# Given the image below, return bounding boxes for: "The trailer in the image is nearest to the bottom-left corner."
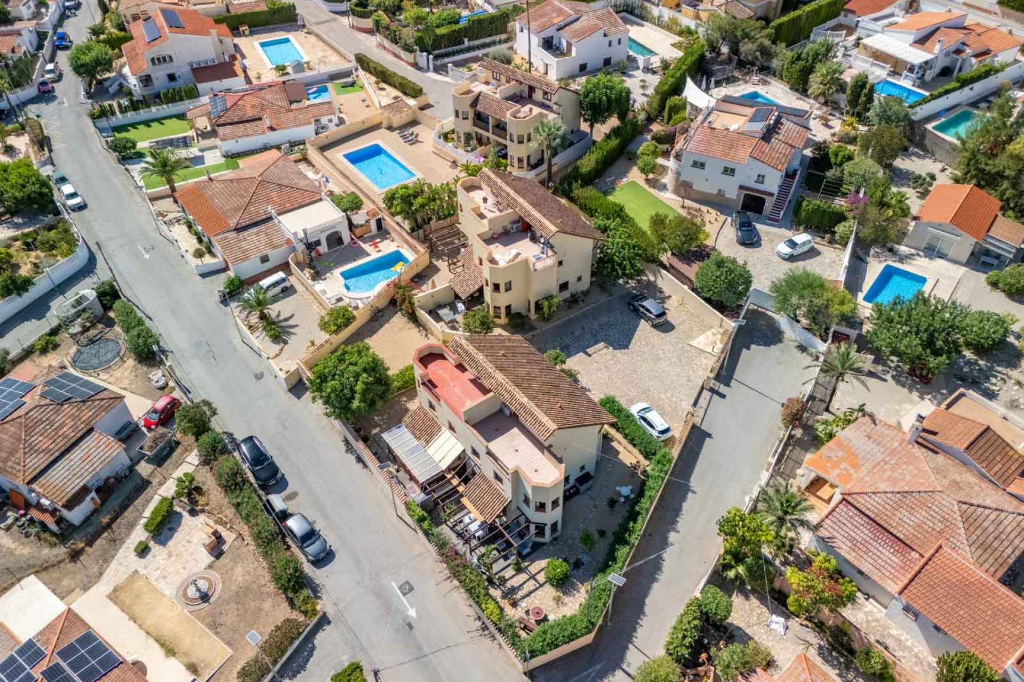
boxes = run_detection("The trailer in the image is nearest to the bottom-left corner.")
[134,425,175,459]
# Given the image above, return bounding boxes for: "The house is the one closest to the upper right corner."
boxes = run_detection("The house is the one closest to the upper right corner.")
[879,2,1020,76]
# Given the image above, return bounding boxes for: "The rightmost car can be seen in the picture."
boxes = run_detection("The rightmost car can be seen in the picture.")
[774,232,818,259]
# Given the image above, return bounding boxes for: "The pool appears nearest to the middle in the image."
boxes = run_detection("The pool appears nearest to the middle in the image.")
[334,246,414,295]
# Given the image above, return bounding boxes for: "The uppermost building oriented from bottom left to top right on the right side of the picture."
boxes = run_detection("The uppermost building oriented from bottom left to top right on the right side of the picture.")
[839,0,898,44]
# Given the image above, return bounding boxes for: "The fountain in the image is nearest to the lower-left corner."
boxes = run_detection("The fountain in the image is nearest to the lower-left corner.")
[172,567,224,614]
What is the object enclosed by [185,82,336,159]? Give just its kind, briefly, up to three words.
house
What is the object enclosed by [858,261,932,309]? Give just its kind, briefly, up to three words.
swimming pool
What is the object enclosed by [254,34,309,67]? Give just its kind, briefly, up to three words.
swimming pool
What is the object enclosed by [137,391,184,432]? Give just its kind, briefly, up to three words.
car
